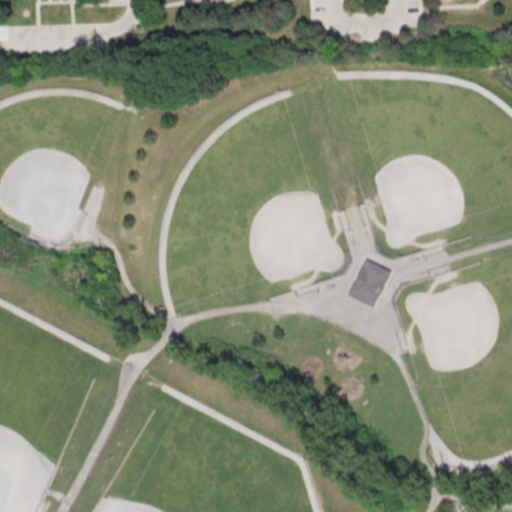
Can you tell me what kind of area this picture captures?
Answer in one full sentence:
What you see here is a sports ground.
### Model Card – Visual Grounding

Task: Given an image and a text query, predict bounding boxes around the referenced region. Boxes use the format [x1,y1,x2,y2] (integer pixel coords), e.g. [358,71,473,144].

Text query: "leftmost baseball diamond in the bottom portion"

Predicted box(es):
[0,298,110,512]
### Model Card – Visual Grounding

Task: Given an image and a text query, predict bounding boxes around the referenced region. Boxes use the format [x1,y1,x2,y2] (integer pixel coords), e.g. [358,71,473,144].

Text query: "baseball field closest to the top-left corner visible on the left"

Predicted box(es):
[0,88,124,250]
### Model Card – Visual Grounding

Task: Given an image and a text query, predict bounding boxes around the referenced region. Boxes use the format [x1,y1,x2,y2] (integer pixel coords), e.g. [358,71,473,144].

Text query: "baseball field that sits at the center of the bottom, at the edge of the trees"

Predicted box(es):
[92,384,321,512]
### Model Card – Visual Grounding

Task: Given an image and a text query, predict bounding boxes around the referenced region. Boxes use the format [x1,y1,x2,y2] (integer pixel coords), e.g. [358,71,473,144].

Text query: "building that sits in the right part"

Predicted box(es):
[349,258,391,306]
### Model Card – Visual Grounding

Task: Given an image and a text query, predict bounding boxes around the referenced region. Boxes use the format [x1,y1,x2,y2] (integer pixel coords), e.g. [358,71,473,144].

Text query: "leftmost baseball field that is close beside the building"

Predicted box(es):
[160,89,345,324]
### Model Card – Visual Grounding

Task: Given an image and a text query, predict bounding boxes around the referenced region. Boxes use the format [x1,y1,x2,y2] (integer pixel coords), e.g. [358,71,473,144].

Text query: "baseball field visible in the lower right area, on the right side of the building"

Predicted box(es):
[406,273,512,472]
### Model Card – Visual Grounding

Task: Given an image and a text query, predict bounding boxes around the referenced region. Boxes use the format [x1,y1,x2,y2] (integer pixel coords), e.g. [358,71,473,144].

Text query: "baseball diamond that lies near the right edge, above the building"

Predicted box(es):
[337,70,512,250]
